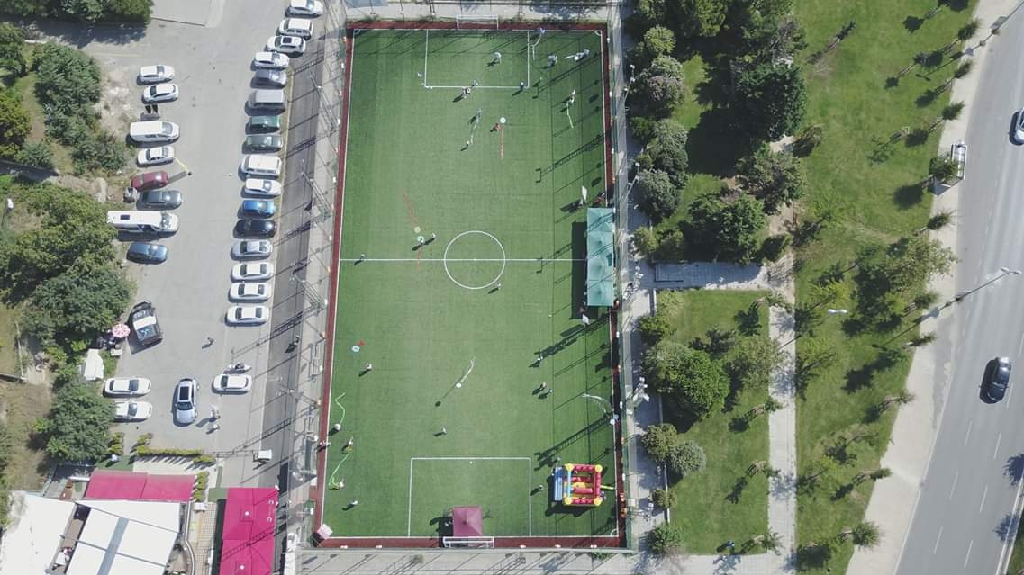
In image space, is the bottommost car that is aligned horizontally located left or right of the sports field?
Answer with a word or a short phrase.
left of it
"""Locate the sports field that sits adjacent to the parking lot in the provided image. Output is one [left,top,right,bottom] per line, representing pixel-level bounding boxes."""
[312,22,631,550]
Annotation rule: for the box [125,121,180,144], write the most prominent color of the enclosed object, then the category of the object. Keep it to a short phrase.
white vehicle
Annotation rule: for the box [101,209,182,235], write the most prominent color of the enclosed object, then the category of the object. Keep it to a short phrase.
white vehicle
